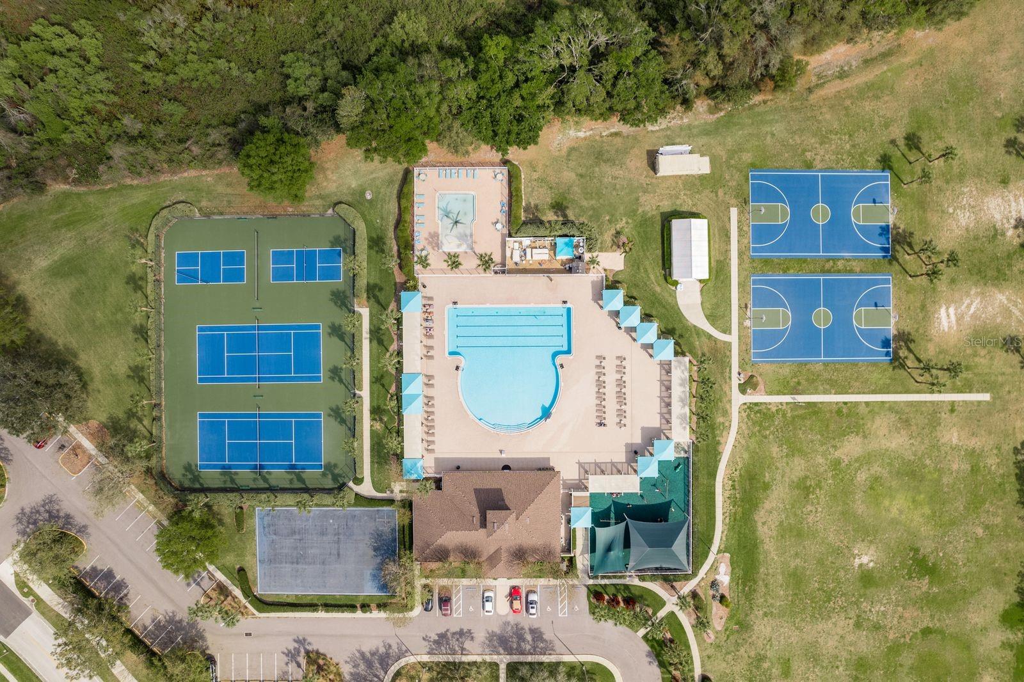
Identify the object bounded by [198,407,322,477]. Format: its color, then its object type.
blue tennis court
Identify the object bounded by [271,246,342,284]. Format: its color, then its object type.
blue sports court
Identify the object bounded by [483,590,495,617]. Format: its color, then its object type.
white vehicle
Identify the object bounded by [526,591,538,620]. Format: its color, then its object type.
white vehicle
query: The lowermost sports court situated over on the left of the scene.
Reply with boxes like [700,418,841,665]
[256,508,398,595]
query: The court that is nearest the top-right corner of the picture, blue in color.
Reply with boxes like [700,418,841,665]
[750,170,891,258]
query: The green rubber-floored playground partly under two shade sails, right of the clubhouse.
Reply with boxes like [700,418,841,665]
[590,457,690,573]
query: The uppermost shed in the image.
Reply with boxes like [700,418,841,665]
[654,154,710,179]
